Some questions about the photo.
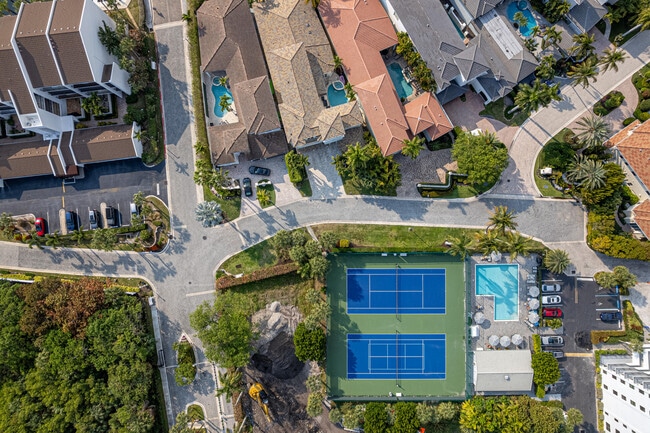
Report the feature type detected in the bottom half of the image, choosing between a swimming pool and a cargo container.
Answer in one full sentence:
Visible in the bottom half of the image is a swimming pool.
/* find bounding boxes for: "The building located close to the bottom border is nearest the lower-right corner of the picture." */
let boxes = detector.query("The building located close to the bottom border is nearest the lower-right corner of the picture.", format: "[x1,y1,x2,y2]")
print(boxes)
[602,360,650,433]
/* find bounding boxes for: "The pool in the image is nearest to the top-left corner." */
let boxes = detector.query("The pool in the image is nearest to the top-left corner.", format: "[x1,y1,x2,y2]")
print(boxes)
[209,76,234,118]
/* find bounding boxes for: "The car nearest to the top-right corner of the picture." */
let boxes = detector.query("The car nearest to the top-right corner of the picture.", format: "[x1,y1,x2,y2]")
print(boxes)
[547,82,564,100]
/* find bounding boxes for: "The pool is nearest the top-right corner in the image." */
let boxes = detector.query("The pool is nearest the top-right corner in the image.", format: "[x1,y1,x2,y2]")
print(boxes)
[505,0,538,37]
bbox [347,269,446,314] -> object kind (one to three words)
tennis court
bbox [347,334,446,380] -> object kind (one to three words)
tennis court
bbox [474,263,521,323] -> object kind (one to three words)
swimming pool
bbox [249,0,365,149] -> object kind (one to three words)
house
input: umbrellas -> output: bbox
[500,335,510,347]
[474,312,485,323]
[491,250,501,261]
[528,312,540,322]
[528,298,539,309]
[528,286,540,296]
[512,333,522,345]
[488,335,500,345]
